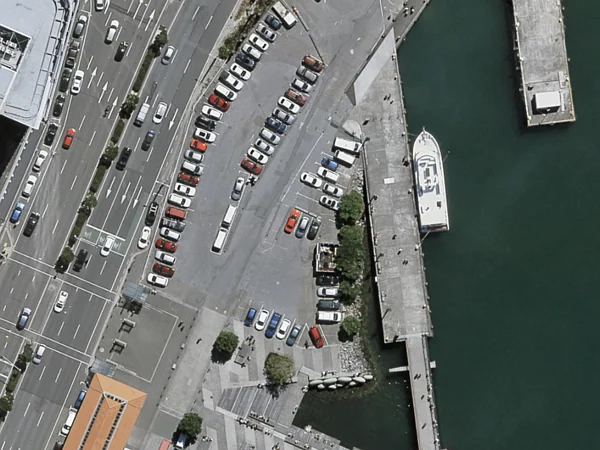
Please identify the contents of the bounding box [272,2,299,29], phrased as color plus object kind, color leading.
white truck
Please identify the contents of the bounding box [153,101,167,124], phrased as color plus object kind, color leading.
white car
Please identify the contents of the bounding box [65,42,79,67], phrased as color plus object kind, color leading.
gray vehicle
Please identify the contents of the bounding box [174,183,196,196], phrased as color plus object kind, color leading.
white vehicle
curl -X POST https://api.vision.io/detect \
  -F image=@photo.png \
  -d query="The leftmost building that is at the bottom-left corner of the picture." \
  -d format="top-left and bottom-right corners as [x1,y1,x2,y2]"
[64,373,147,450]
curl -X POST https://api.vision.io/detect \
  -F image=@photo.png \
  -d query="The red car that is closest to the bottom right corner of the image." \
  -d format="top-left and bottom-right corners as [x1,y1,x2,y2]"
[309,326,323,347]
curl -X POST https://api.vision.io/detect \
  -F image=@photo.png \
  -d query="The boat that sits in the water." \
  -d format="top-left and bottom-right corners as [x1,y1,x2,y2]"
[413,126,449,232]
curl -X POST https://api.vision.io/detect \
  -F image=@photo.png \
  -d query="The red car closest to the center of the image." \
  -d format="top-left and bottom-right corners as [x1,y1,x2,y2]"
[285,208,300,231]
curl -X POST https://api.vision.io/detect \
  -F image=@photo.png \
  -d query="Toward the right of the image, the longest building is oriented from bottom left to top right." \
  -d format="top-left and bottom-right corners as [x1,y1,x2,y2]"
[345,28,395,106]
